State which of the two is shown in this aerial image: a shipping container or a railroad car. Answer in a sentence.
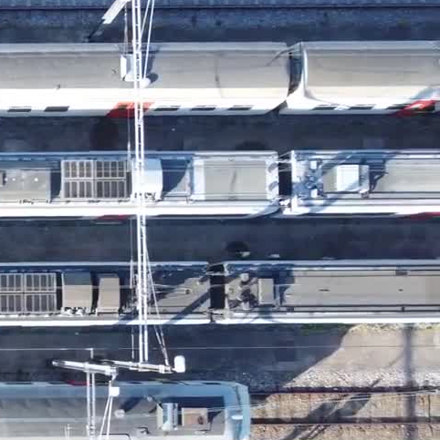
I can see a railroad car in this picture.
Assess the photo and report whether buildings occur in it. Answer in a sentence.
No, no building is visible in the view.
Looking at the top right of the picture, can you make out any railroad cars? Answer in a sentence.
Yes, I can see a railroad car at the top right of the picture.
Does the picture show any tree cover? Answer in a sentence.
No, the picture contains no tree cover.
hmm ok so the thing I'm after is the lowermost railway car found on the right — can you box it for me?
[209,261,440,325]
